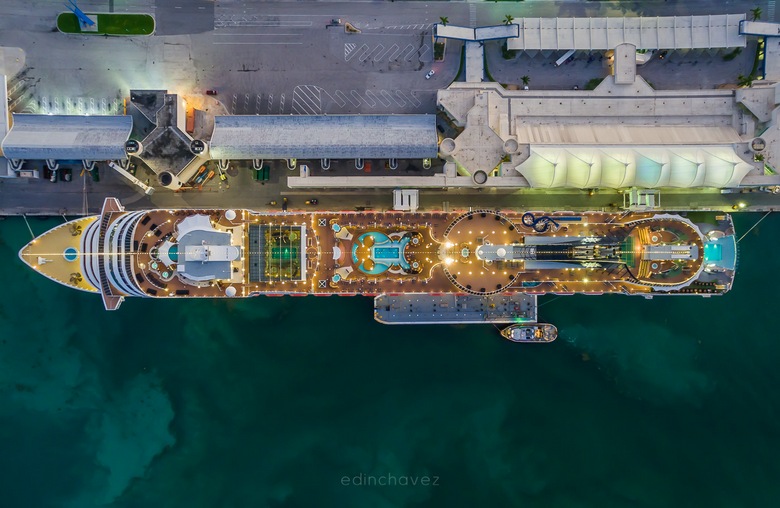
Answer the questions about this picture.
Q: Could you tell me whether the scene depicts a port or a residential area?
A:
port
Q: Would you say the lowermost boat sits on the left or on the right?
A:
right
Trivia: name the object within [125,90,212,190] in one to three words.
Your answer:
building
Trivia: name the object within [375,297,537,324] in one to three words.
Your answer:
ship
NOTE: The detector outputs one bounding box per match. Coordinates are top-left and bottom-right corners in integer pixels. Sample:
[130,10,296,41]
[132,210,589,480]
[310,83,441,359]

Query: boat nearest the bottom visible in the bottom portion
[500,323,558,343]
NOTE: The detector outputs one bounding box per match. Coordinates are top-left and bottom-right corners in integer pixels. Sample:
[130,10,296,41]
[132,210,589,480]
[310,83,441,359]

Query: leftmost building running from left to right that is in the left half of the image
[3,112,138,171]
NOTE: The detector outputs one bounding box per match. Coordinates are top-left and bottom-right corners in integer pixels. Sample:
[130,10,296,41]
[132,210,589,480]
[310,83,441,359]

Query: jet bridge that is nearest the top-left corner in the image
[108,161,155,196]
